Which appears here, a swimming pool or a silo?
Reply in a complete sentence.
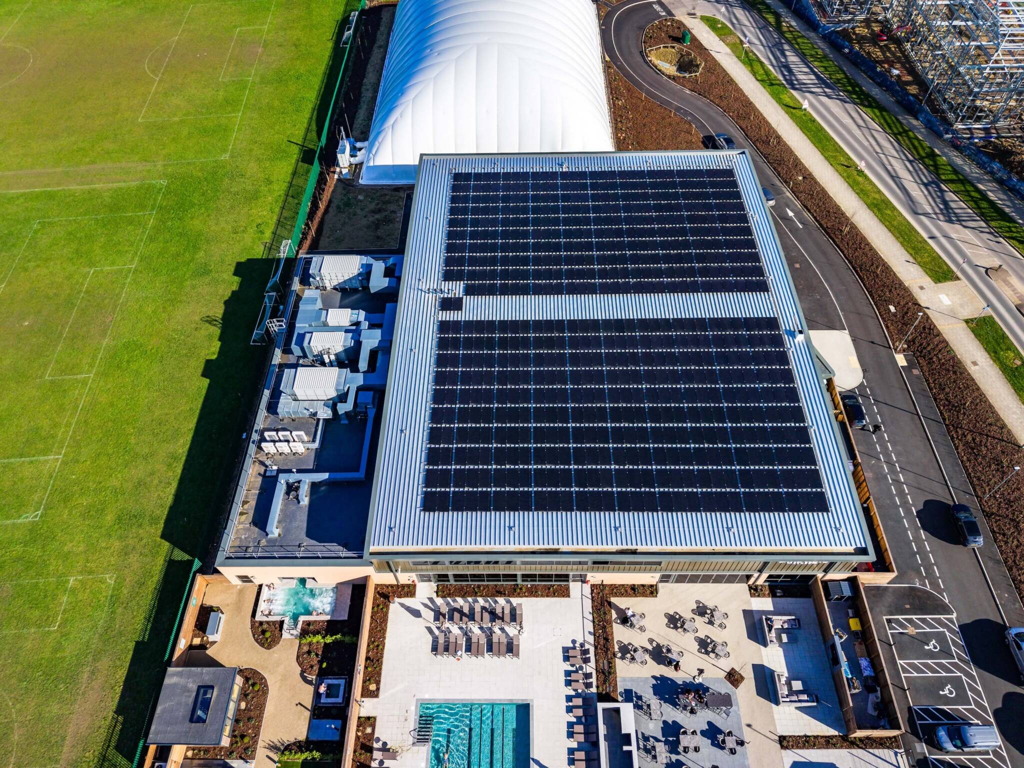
Looking from above, you can make out a swimming pool.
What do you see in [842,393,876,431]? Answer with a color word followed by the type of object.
black car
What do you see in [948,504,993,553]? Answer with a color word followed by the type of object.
black car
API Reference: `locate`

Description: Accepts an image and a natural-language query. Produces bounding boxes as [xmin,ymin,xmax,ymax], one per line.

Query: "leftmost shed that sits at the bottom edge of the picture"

[146,667,242,747]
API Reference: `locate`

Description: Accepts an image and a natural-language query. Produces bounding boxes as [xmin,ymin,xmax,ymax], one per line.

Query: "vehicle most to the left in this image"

[708,135,735,152]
